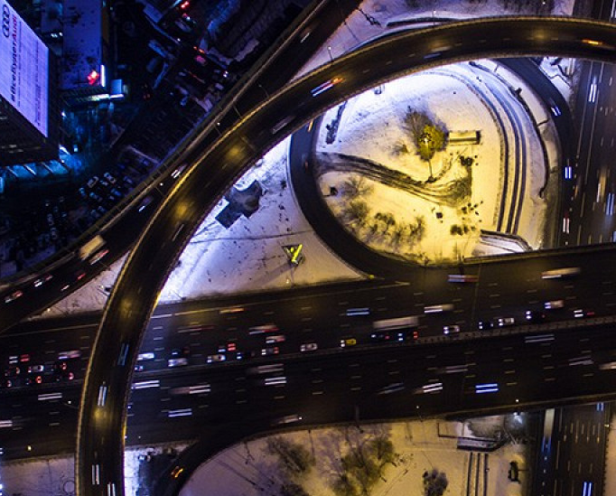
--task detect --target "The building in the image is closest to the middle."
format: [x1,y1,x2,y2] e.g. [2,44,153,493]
[212,174,267,227]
